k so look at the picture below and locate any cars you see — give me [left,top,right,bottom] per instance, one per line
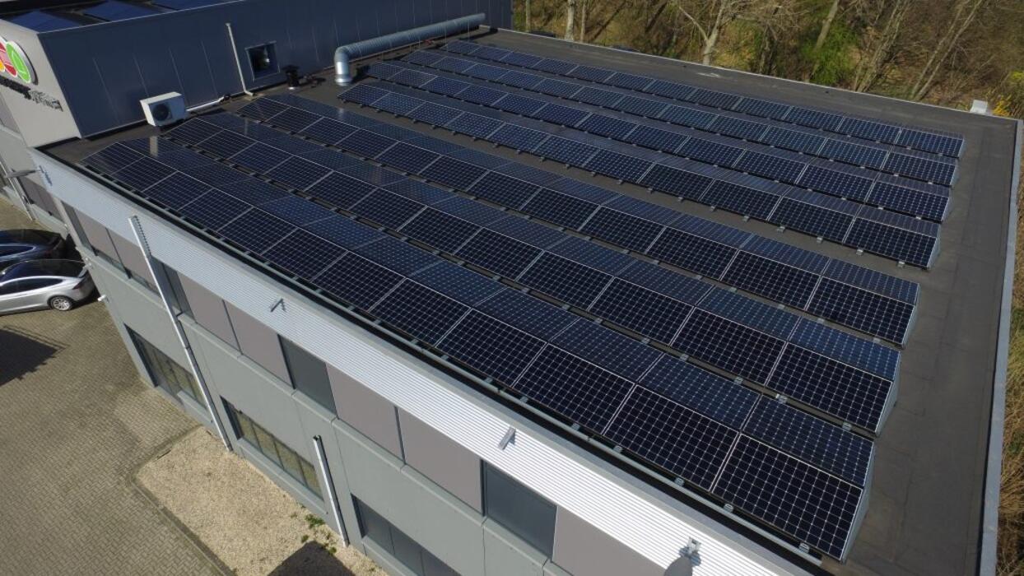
[0,227,71,266]
[0,259,95,315]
